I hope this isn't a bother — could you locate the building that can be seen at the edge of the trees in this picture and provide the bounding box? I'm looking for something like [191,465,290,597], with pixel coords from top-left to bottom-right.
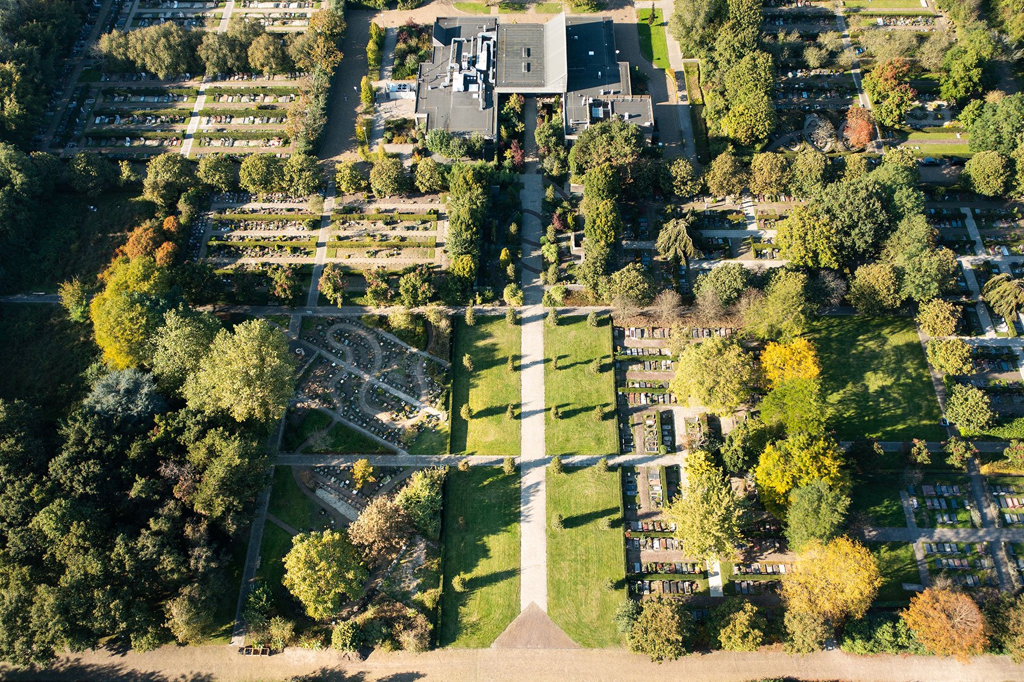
[416,9,654,150]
